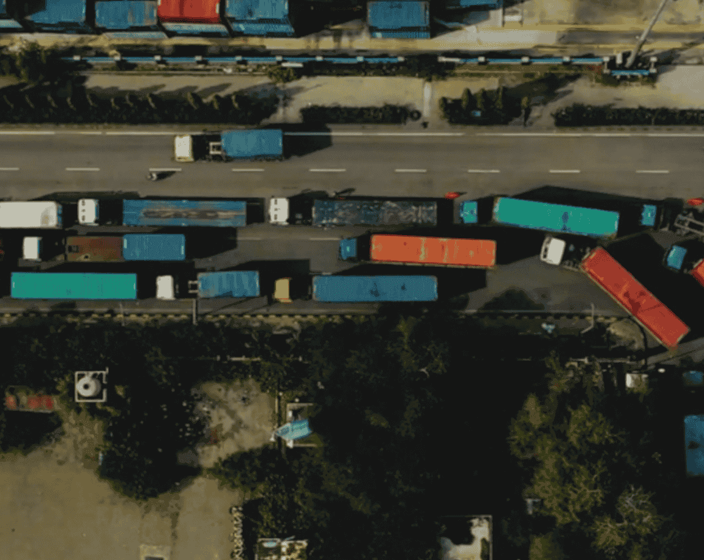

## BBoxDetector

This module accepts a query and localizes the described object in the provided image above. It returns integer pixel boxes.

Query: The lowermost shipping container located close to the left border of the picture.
[11,274,141,300]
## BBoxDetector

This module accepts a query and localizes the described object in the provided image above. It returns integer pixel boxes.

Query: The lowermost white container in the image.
[0,203,65,230]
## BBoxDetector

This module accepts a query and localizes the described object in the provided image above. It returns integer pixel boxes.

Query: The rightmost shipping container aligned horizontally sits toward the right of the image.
[491,197,619,238]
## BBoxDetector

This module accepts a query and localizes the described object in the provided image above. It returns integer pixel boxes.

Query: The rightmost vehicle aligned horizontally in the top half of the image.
[631,200,704,242]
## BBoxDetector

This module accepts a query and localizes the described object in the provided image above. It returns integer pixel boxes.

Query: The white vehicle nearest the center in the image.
[267,197,437,227]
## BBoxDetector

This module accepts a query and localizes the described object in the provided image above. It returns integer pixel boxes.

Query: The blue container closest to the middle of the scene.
[313,276,438,302]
